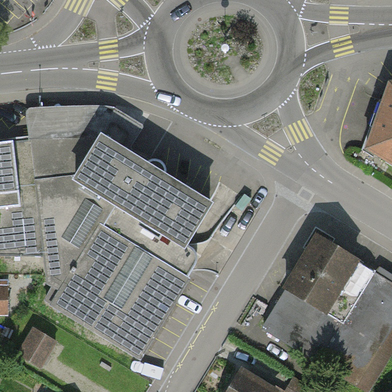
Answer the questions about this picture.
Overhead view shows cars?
Yes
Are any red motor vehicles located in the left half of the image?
No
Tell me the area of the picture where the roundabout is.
top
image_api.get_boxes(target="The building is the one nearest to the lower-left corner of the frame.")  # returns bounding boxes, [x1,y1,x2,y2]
[22,327,58,368]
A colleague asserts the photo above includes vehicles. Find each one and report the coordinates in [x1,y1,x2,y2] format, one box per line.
[158,91,181,105]
[221,212,238,236]
[268,342,288,360]
[234,350,256,364]
[178,296,202,312]
[170,2,192,19]
[10,100,29,116]
[252,186,268,208]
[239,206,256,229]
[130,361,165,381]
